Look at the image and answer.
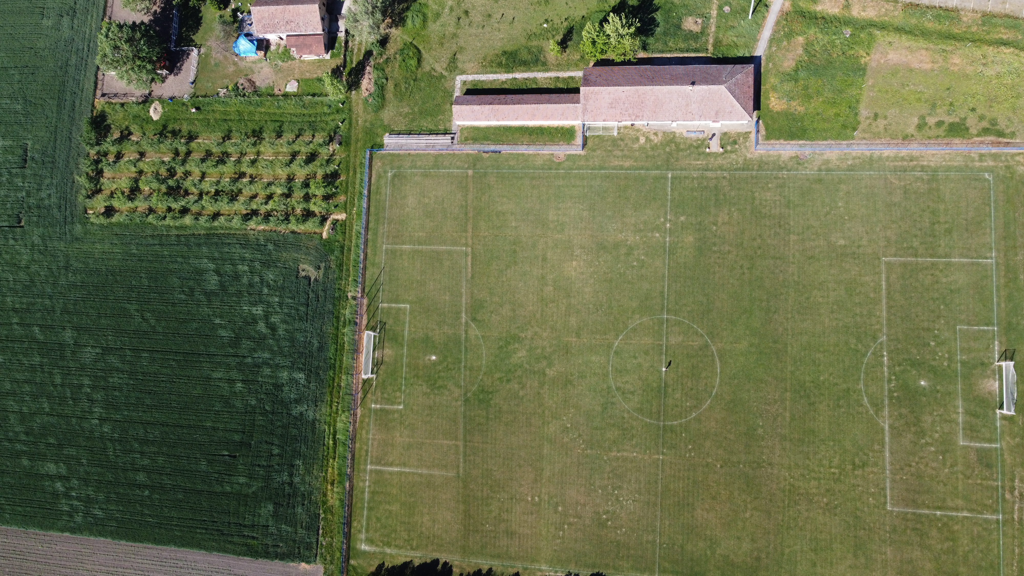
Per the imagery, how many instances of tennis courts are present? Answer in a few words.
0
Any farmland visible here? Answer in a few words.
Yes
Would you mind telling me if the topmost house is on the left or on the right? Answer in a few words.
left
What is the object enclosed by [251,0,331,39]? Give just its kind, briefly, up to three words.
house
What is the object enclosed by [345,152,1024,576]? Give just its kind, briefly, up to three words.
soccer field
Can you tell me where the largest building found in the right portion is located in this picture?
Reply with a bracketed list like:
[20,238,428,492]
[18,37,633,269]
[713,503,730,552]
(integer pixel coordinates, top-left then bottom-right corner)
[581,64,754,130]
